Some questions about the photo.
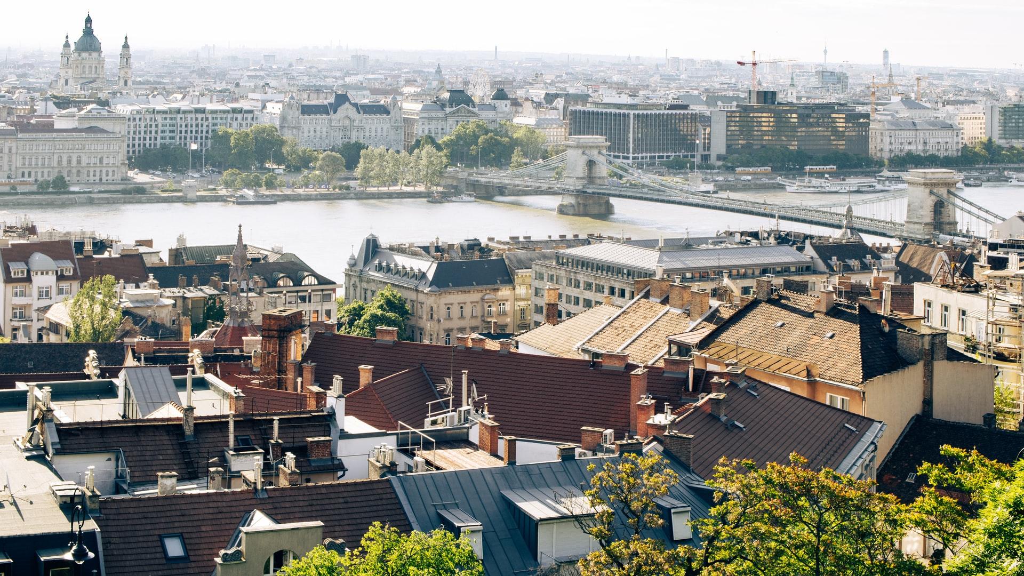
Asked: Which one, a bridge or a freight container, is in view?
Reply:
bridge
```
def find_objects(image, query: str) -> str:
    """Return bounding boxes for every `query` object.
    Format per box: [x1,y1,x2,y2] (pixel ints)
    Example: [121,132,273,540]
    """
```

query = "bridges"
[433,135,1011,252]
